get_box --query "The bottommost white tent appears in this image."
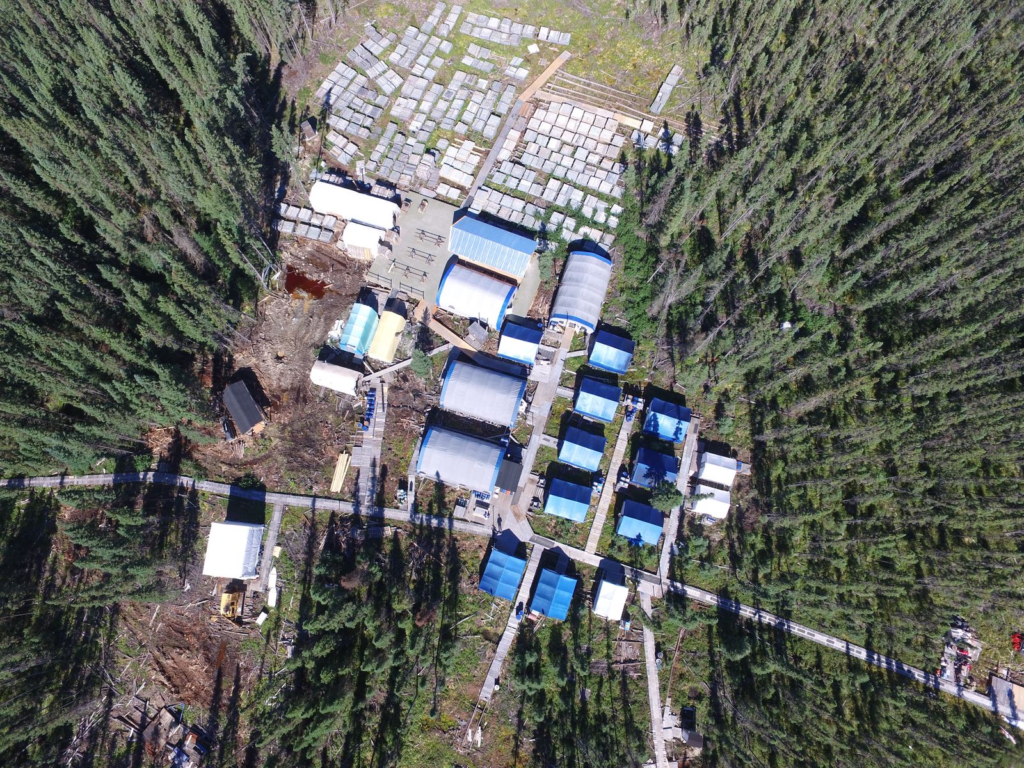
[594,579,628,621]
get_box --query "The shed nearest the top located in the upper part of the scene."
[297,120,323,147]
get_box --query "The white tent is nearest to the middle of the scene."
[497,323,544,368]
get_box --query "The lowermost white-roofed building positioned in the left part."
[202,522,267,577]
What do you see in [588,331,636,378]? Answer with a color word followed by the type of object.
blue tent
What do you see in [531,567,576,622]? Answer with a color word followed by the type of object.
blue tent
